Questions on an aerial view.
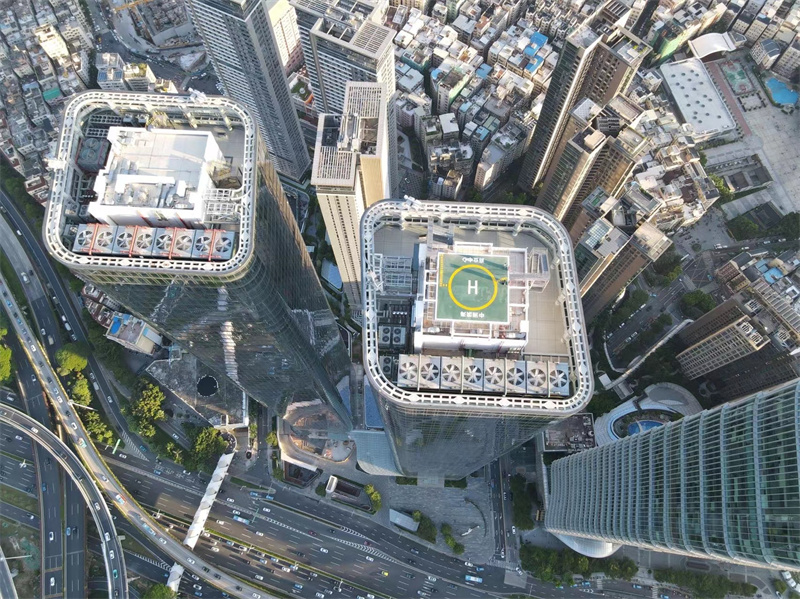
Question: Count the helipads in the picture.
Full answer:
I count just 1 helipad.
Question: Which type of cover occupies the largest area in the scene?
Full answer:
What you mostly see from above here is buildings.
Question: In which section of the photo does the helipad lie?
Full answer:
Look in the center portion of the view to spot the helipad.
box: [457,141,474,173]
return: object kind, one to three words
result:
house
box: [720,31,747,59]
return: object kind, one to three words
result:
house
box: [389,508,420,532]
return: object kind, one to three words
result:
building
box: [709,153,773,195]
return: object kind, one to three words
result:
building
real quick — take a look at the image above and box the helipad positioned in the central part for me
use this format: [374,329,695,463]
[415,239,531,353]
